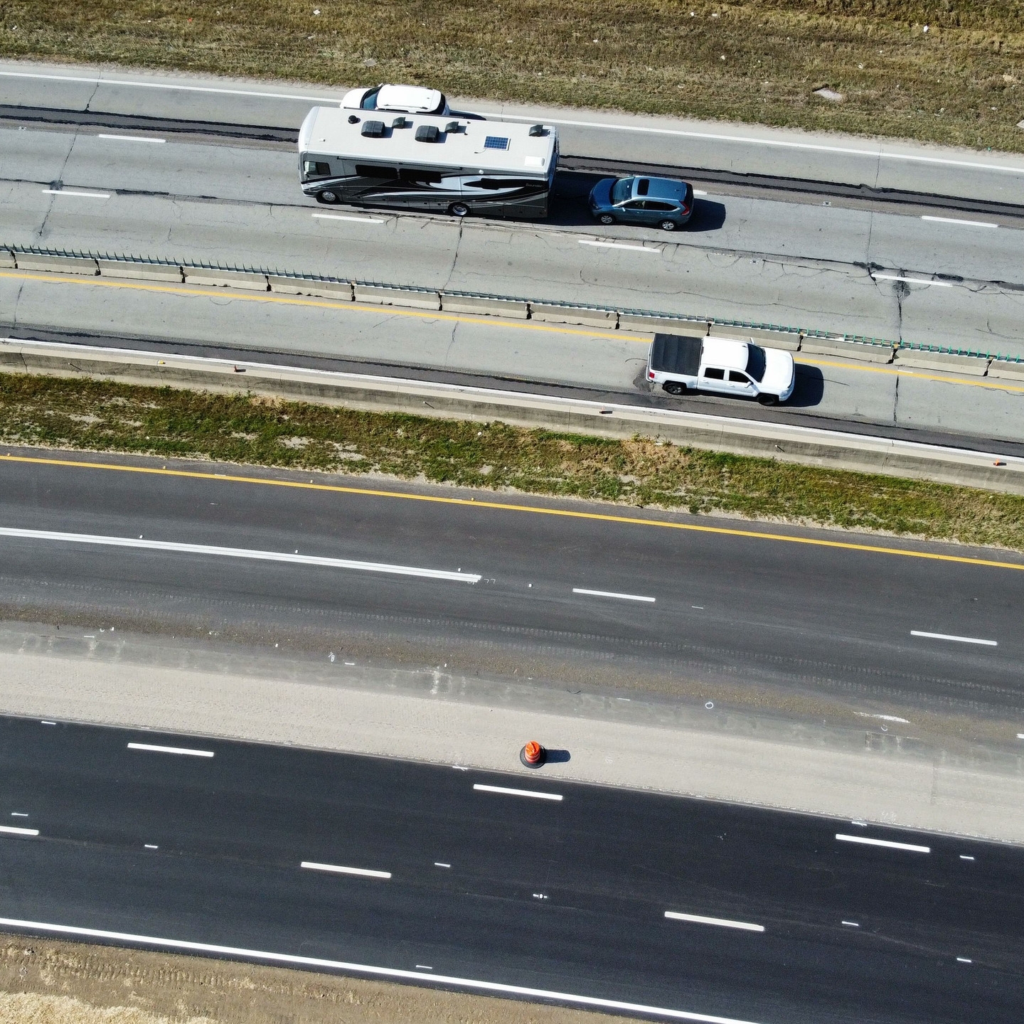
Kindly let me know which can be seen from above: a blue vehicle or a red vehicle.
blue vehicle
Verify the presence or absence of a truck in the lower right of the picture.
No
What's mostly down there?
paved ground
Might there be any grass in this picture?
Yes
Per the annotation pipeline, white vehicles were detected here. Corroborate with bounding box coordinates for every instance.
[301,108,561,219]
[339,81,452,116]
[645,333,796,407]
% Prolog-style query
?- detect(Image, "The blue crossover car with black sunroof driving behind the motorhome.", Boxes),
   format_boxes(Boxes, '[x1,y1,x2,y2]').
[588,173,695,230]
